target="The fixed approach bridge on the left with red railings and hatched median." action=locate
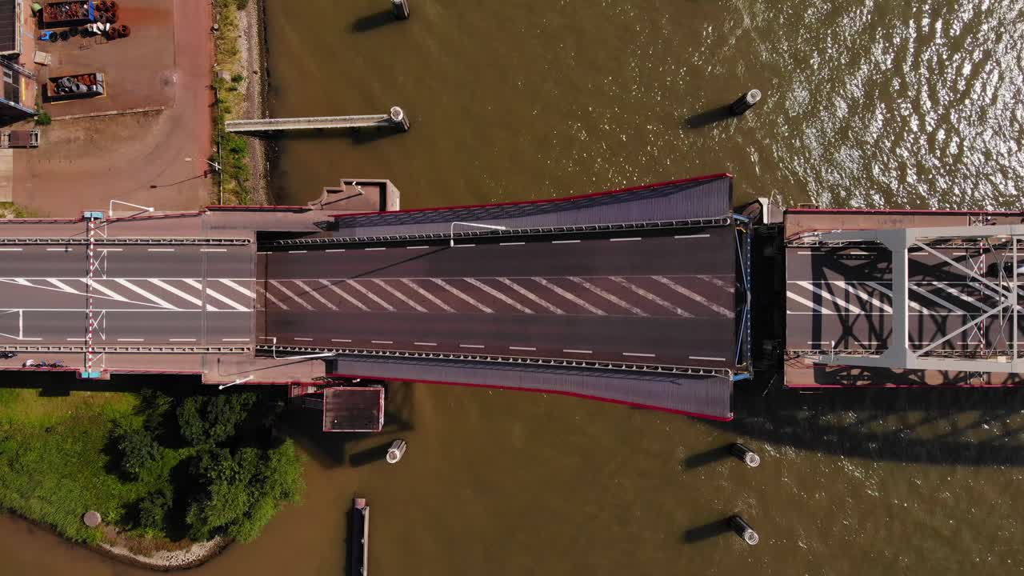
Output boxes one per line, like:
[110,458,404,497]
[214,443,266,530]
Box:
[0,206,333,385]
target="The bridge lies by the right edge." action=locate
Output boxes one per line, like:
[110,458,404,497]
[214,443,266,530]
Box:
[780,200,1024,392]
